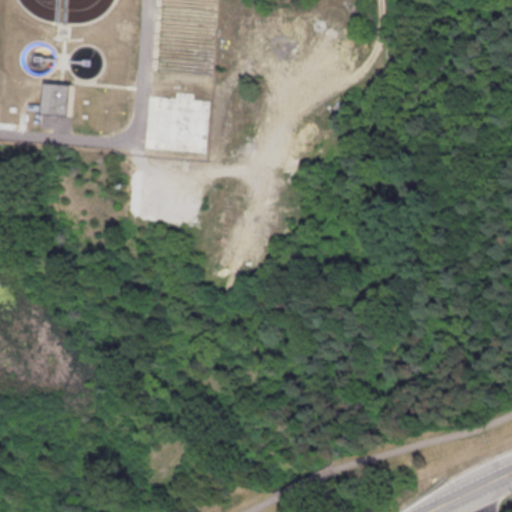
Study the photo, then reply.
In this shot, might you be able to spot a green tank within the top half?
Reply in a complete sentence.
No, I can find no green tank within the top half.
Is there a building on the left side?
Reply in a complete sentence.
Yes, on the left side there is a building.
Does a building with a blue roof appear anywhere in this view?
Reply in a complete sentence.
No, I can't see a single building with a blue roof in this photo.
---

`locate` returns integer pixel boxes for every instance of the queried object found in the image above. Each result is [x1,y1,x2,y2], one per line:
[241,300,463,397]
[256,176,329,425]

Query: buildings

[40,84,68,117]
